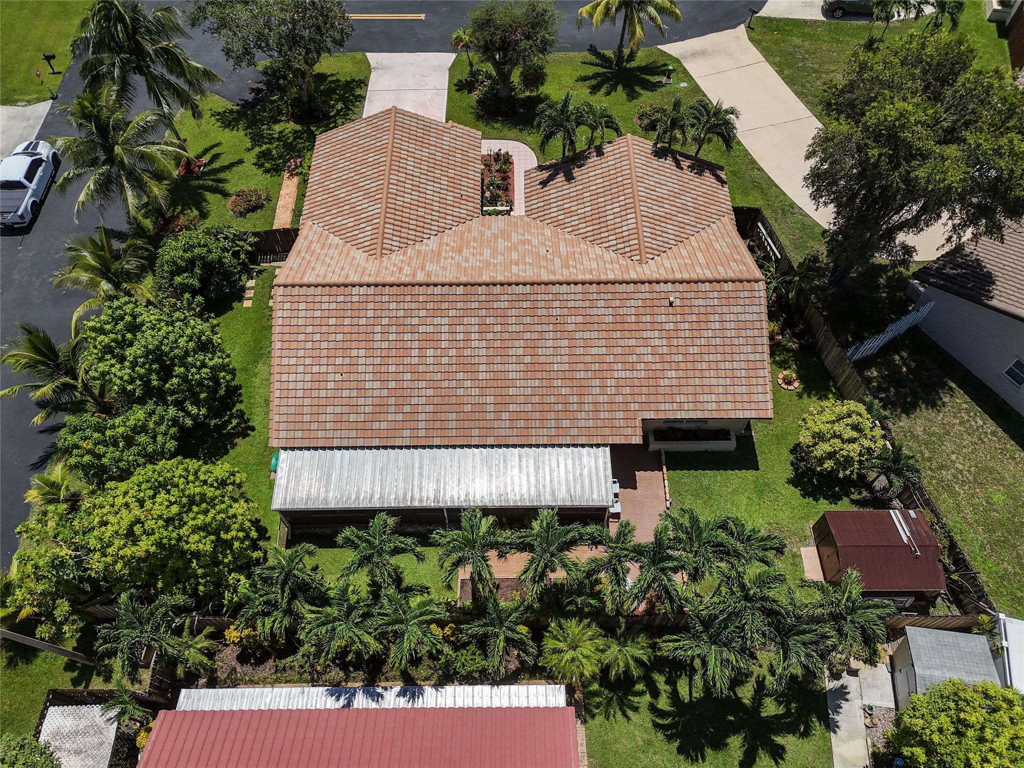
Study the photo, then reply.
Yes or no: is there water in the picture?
No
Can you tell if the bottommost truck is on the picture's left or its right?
left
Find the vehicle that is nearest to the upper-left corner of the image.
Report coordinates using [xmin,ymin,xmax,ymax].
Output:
[0,143,64,232]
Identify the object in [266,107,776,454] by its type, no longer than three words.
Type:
house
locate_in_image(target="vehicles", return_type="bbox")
[0,143,64,232]
[822,0,891,22]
